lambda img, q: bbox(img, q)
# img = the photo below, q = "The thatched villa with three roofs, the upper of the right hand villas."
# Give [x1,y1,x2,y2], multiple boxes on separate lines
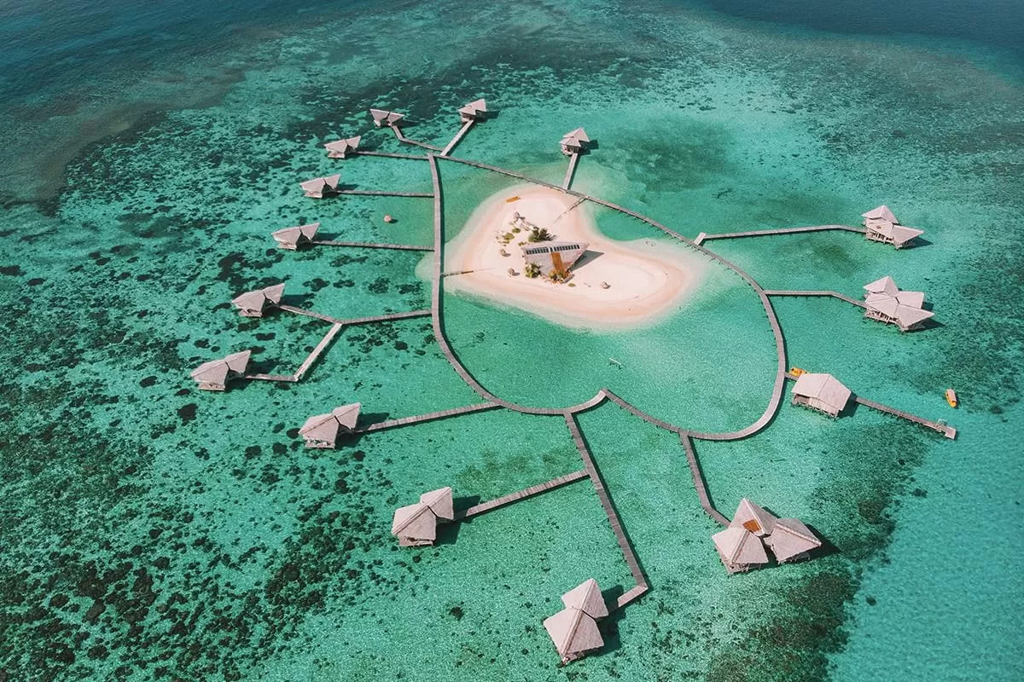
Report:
[860,204,926,255]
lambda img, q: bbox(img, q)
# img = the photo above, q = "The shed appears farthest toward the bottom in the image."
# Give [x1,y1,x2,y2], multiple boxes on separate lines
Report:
[545,578,608,671]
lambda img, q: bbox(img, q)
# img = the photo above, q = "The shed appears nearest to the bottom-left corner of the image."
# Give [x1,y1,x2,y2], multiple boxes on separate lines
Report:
[189,348,253,400]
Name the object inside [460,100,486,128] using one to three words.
shed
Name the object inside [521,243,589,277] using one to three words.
house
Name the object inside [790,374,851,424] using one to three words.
building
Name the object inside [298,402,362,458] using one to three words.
shed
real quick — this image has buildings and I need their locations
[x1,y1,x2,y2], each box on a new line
[861,274,936,338]
[300,174,343,206]
[521,243,589,277]
[370,109,403,134]
[324,136,362,165]
[790,374,851,424]
[712,495,824,583]
[231,282,288,326]
[460,100,486,128]
[860,204,926,255]
[272,222,321,257]
[298,402,362,458]
[545,578,608,671]
[189,348,253,400]
[561,128,589,160]
[393,486,453,557]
